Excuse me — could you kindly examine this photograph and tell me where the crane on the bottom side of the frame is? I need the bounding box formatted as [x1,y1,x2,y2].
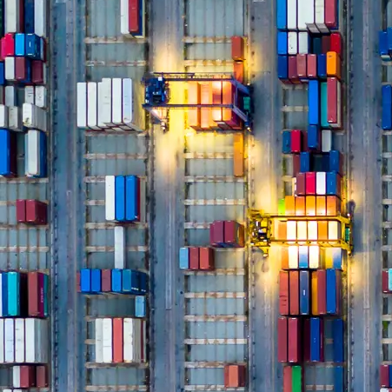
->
[242,209,358,266]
